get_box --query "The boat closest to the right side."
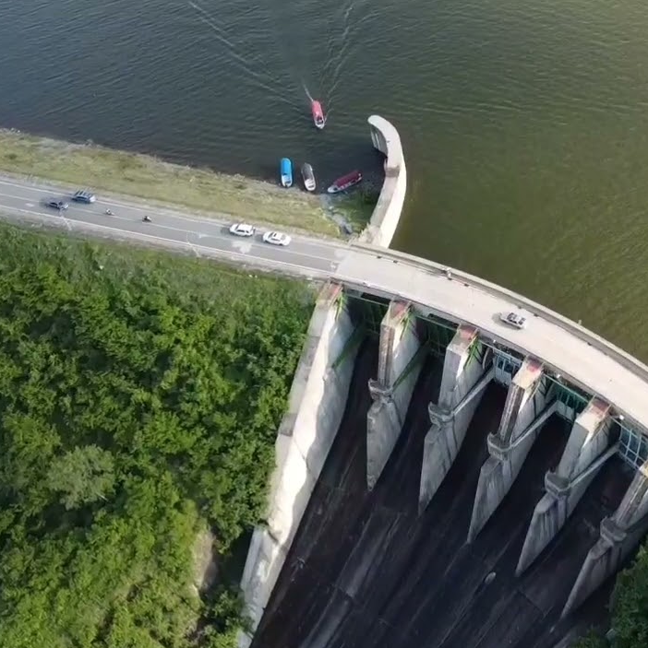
[327,171,363,193]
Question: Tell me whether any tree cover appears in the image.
Yes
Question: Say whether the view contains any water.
Yes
